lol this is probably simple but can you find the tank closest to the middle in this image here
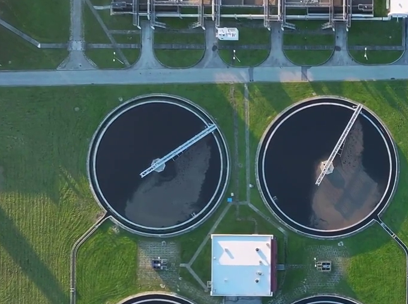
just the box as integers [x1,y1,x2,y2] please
[87,93,234,239]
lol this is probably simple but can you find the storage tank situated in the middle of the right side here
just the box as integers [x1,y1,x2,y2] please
[254,95,400,241]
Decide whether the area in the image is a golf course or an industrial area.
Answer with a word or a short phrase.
industrial area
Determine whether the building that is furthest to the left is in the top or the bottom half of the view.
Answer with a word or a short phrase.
bottom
